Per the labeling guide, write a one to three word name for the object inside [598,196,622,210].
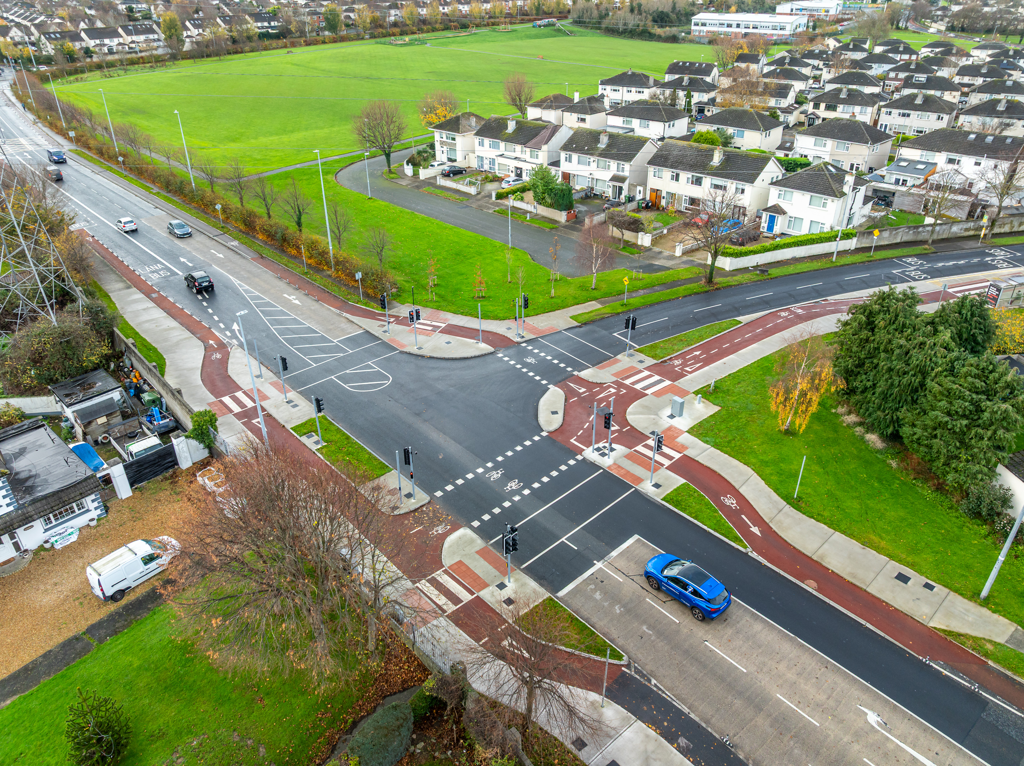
car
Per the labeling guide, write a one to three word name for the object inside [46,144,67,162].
vehicle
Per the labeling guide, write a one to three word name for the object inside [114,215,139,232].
car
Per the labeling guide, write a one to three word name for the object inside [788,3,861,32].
building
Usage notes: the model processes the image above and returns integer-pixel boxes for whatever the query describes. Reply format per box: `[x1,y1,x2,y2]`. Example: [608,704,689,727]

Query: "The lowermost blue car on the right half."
[644,556,736,624]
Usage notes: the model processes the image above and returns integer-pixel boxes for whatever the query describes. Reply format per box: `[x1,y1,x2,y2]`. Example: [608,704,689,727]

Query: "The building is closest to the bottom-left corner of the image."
[0,410,97,563]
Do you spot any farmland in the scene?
No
